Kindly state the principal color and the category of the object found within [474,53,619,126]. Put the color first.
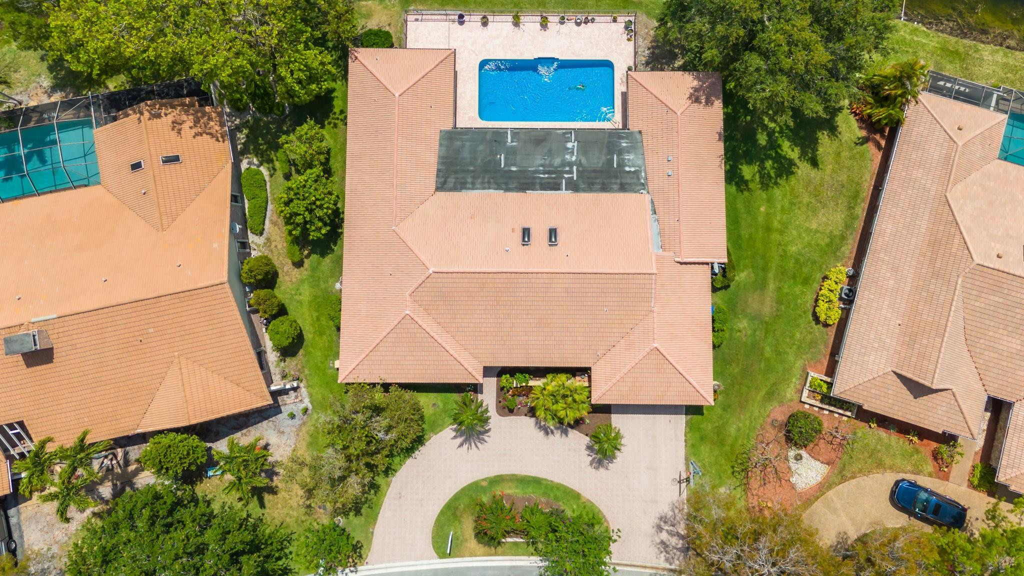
blue swimming pool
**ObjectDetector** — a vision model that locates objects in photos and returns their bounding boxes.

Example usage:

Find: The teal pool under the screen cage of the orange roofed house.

[0,124,101,202]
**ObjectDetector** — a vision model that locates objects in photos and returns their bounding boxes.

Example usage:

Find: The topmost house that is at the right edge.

[831,92,1024,442]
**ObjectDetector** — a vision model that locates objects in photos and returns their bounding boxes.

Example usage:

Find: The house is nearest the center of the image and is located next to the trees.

[337,46,728,407]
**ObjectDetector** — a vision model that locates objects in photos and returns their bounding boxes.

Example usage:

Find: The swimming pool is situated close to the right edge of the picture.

[1000,117,1024,165]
